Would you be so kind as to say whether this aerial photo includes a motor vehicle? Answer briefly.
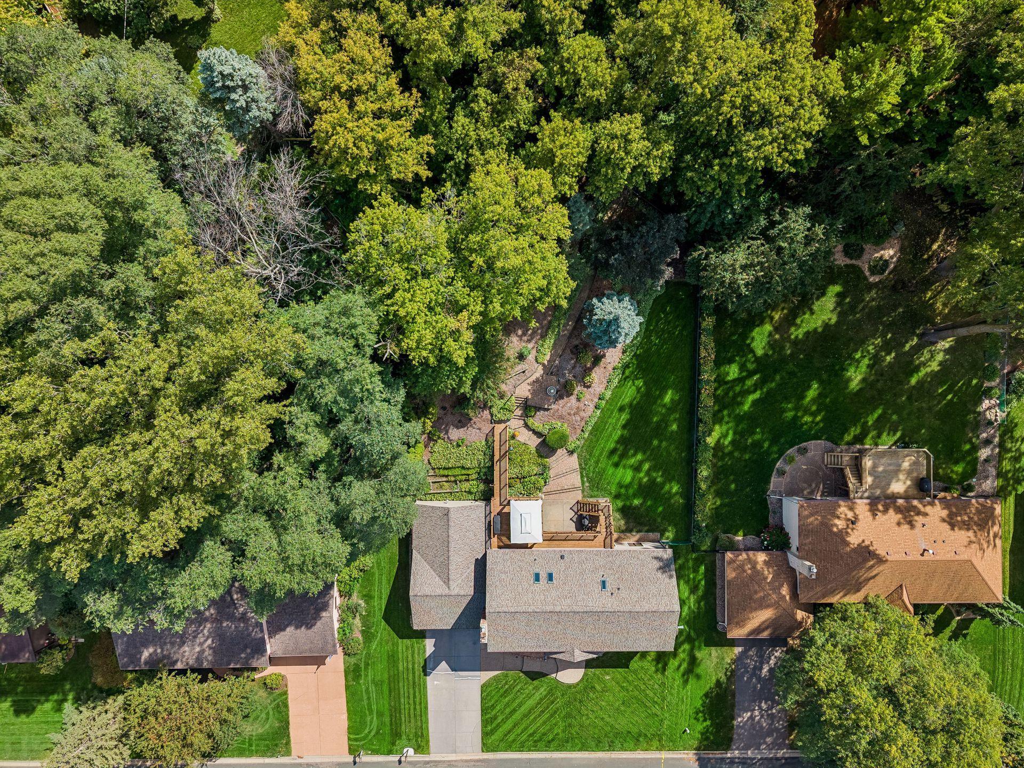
No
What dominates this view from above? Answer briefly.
trees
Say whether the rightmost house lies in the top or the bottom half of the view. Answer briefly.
bottom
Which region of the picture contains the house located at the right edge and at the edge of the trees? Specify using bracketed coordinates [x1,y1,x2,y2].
[713,496,1003,639]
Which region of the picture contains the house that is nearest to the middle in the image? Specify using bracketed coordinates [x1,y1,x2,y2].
[410,500,682,664]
